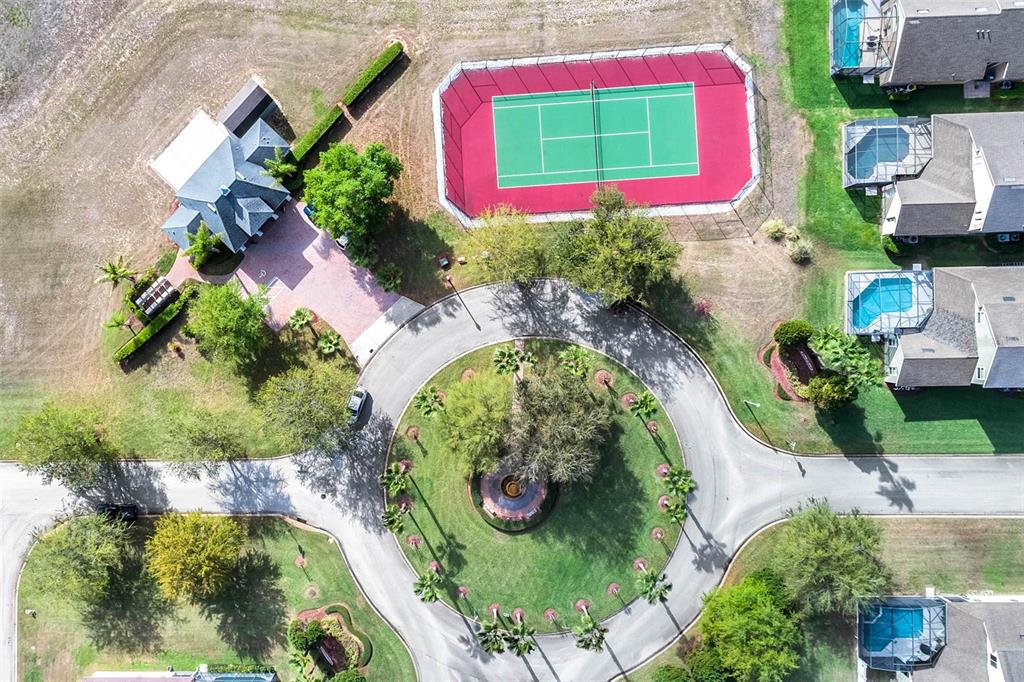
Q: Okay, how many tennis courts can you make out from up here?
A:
1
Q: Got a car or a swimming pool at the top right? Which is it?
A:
swimming pool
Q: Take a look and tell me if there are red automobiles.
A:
No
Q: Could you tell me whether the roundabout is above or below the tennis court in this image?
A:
below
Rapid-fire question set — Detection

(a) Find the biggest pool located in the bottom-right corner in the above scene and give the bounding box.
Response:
[857,595,936,660]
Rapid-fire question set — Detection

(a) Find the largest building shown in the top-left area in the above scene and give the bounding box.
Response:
[160,118,299,254]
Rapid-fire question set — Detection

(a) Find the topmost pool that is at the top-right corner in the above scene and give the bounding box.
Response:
[830,0,884,76]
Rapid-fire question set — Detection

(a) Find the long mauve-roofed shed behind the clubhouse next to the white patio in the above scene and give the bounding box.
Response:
[216,77,270,133]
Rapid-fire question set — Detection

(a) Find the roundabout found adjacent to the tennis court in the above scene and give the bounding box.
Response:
[344,282,731,681]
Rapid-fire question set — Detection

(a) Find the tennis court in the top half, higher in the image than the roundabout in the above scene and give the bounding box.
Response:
[432,42,760,228]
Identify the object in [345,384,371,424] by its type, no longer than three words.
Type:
car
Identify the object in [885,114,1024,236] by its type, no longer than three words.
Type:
house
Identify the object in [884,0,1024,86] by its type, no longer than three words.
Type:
house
